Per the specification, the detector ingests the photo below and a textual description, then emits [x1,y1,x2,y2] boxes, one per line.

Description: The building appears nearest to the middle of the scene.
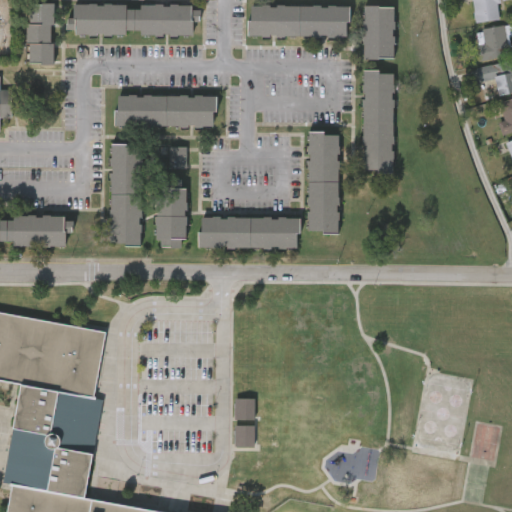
[198,218,301,250]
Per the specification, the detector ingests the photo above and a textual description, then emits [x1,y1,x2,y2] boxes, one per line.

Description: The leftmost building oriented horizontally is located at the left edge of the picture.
[0,216,74,248]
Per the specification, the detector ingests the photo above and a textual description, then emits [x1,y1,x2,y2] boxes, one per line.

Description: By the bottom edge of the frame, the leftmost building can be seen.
[0,313,158,512]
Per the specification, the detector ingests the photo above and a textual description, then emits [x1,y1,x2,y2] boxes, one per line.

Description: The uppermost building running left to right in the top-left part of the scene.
[66,4,202,38]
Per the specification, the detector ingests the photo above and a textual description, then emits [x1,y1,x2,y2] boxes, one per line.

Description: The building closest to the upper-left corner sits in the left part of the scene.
[26,4,55,64]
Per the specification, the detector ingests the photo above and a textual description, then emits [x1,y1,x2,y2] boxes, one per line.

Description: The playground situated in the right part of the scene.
[321,438,380,487]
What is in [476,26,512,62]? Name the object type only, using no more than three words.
house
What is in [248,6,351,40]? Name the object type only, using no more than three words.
building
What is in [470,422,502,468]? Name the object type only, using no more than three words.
basketball court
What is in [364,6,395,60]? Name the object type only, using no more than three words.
building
